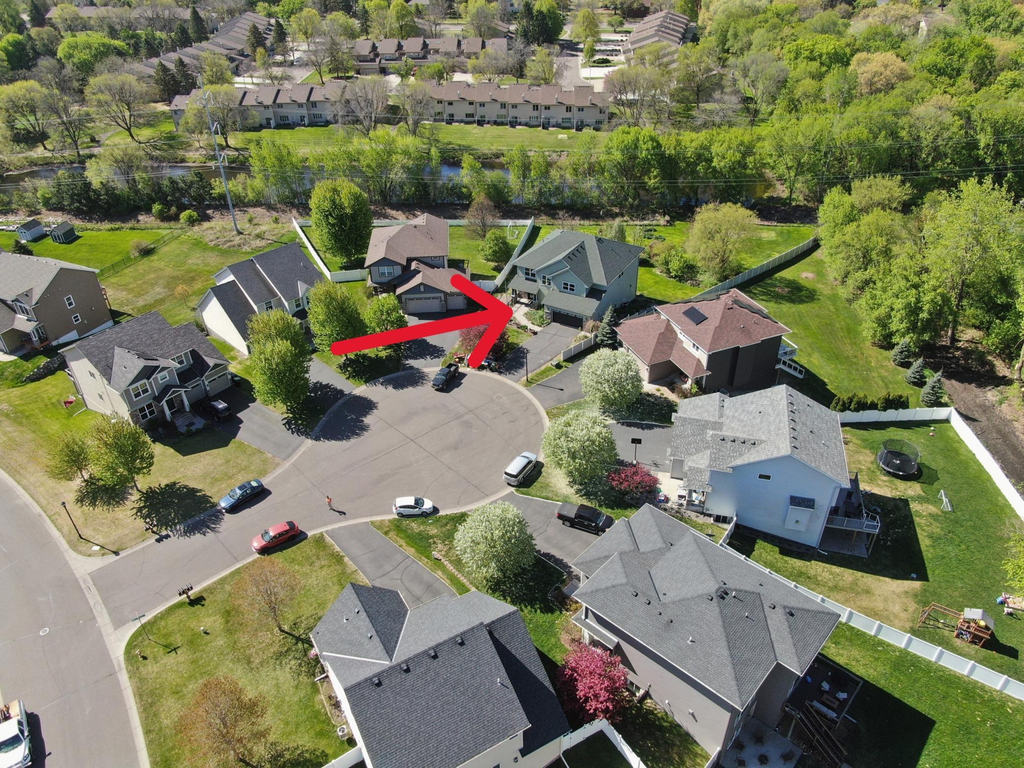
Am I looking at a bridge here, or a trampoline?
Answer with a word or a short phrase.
trampoline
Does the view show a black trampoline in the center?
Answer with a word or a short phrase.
No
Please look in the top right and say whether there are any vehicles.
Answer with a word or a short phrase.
No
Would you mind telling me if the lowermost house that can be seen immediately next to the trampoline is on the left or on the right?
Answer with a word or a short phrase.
right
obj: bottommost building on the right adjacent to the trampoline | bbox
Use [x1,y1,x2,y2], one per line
[668,378,883,553]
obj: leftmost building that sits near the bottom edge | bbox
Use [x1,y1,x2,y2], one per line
[305,570,576,768]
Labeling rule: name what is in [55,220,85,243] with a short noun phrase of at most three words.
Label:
shed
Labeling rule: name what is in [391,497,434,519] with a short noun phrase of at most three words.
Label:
car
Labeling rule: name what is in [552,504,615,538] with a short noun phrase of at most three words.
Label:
vehicle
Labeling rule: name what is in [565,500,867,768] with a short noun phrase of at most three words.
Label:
house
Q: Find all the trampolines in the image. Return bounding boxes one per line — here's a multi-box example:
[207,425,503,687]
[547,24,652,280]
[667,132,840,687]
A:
[882,441,928,484]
